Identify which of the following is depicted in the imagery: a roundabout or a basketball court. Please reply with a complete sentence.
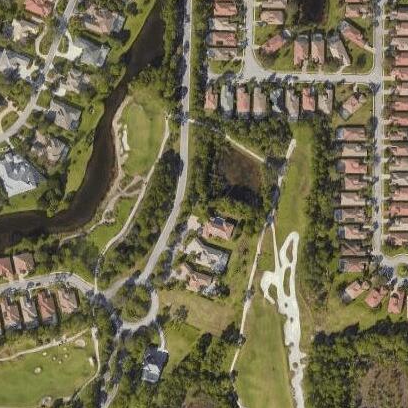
Of the two, only a roundabout appears.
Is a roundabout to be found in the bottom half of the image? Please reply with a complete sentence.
Yes, looking in the bottom half of the image, one can make out a roundabout.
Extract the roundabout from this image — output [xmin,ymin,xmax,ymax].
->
[104,277,159,329]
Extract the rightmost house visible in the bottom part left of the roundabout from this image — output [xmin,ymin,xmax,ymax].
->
[60,287,80,313]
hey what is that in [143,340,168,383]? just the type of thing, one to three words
house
